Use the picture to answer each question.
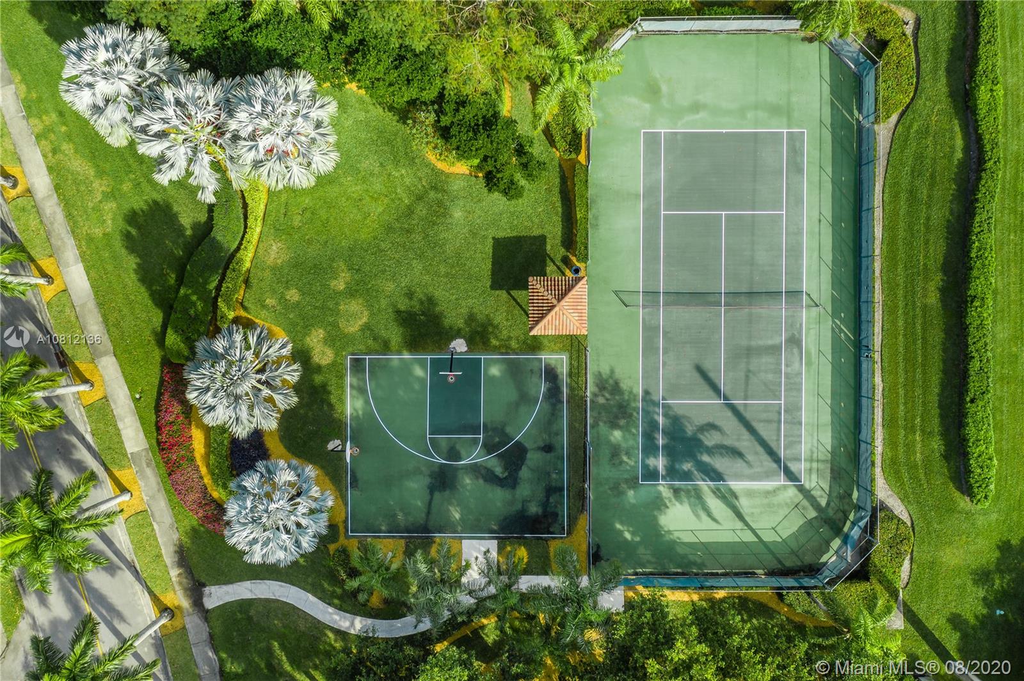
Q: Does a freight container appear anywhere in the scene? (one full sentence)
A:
No, the scene contains no freight container.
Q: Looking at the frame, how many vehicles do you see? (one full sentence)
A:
The photo contains no vehicles.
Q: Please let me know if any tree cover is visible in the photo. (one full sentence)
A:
Yes, there is tree cover in the image.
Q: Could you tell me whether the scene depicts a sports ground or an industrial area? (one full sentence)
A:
The area seen from above is a sports ground.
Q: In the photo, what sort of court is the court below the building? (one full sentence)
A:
Looking closely, the court below the building is a basketball court.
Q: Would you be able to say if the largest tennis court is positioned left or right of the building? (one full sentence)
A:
Relative to the building, the largest tennis court lies to the right.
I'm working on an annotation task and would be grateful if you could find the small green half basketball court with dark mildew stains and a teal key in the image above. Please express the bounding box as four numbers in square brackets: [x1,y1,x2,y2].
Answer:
[346,352,569,539]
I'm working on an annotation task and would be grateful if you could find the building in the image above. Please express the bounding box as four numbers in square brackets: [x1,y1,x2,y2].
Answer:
[527,275,588,336]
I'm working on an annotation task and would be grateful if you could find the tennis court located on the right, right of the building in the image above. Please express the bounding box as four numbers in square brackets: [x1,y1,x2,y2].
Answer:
[587,33,862,578]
